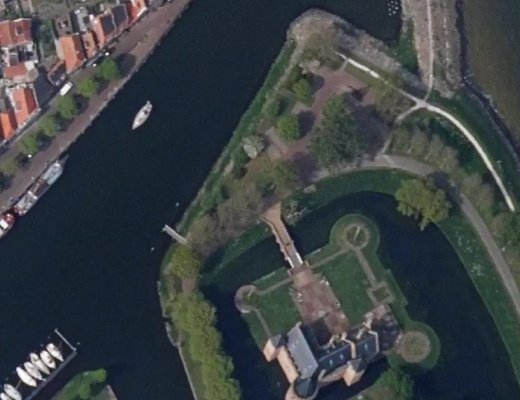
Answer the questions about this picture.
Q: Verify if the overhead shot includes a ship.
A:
Yes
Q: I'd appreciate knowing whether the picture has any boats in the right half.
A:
No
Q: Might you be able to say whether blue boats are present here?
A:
No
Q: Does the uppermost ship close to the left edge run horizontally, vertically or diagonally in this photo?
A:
diagonally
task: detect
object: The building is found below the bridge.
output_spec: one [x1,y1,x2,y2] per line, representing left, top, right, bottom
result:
[264,322,378,400]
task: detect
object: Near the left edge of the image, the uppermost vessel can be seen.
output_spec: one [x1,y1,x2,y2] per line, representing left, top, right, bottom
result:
[12,155,69,216]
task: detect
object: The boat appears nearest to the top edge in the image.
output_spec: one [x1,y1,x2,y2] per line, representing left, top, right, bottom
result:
[133,100,152,129]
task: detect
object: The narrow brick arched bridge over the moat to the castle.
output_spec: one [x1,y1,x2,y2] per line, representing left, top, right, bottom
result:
[269,215,303,269]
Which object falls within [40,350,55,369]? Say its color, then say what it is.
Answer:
white boat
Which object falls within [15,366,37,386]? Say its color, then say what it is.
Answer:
white boat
